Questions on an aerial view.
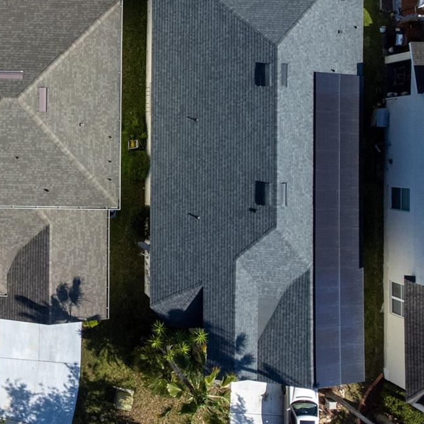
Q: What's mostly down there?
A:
buildings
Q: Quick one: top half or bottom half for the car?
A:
bottom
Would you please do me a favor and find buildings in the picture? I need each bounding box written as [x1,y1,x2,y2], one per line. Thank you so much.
[385,38,424,419]
[145,0,364,389]
[0,0,124,325]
